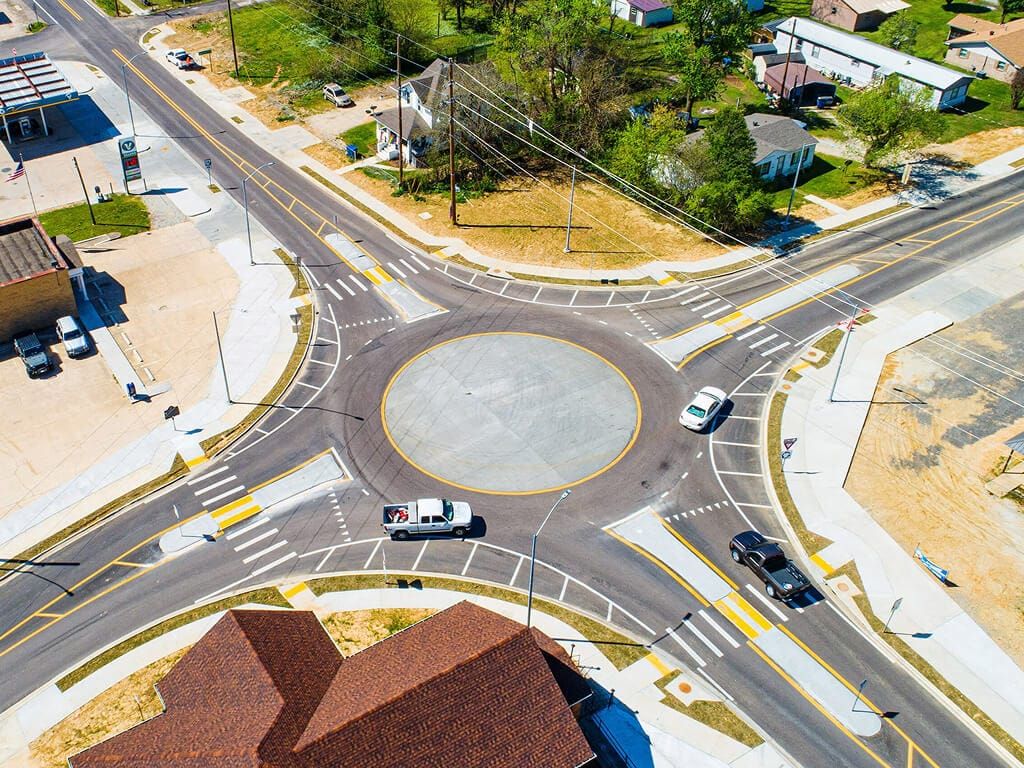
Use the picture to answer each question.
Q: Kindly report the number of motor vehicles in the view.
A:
7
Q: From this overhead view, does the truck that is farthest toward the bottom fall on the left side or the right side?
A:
right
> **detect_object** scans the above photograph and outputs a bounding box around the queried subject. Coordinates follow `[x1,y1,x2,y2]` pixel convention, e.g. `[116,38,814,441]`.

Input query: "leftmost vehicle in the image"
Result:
[11,330,51,374]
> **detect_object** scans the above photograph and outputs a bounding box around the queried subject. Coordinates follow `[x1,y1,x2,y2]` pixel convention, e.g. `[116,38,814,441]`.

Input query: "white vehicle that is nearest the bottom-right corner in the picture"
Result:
[682,388,723,433]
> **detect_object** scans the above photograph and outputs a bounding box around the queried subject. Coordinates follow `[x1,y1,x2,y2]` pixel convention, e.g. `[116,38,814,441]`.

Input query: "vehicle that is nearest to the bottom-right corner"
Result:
[728,533,809,606]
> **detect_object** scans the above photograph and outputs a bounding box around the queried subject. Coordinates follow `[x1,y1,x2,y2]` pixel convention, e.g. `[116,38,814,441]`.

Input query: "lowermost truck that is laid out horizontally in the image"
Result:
[384,500,475,540]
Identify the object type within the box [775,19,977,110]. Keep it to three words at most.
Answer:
house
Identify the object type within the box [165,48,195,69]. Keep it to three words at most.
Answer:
truck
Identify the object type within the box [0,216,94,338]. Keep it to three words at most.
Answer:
building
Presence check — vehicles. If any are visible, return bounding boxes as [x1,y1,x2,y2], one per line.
[51,312,94,358]
[321,81,351,105]
[165,48,195,69]
[384,500,475,540]
[682,388,723,433]
[11,330,51,374]
[728,533,809,606]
